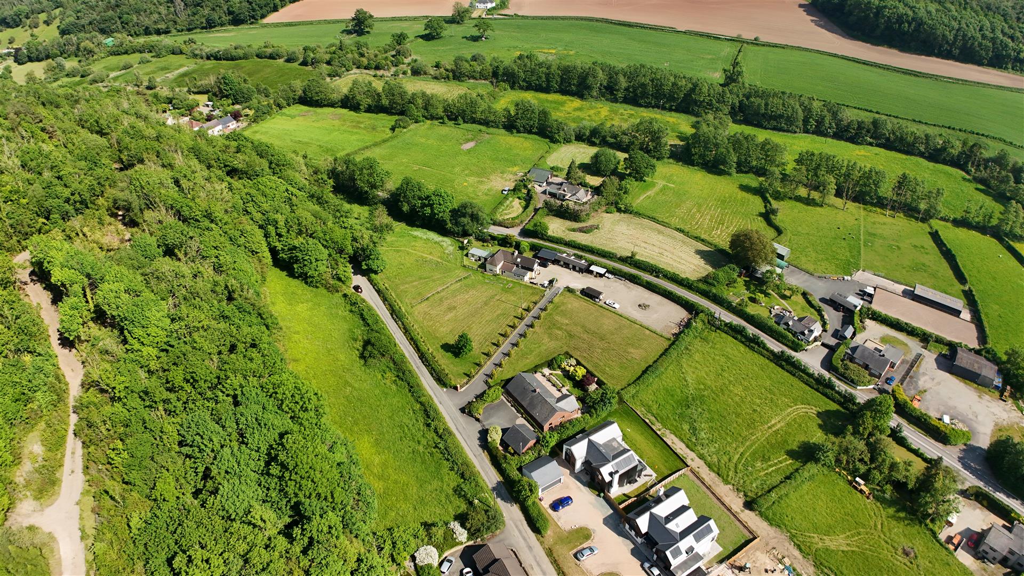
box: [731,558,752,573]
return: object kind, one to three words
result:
work vehicle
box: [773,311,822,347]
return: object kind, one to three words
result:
house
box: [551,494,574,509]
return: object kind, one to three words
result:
car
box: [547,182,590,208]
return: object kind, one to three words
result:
house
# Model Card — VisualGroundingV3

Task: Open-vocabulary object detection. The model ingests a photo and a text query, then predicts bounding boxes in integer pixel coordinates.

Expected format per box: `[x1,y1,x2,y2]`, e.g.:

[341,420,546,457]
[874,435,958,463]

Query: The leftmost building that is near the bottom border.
[473,539,531,576]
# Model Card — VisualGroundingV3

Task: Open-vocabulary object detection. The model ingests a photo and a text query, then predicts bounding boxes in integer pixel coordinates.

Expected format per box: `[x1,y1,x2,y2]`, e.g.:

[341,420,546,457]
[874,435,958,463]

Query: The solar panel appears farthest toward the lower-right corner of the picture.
[693,523,713,544]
